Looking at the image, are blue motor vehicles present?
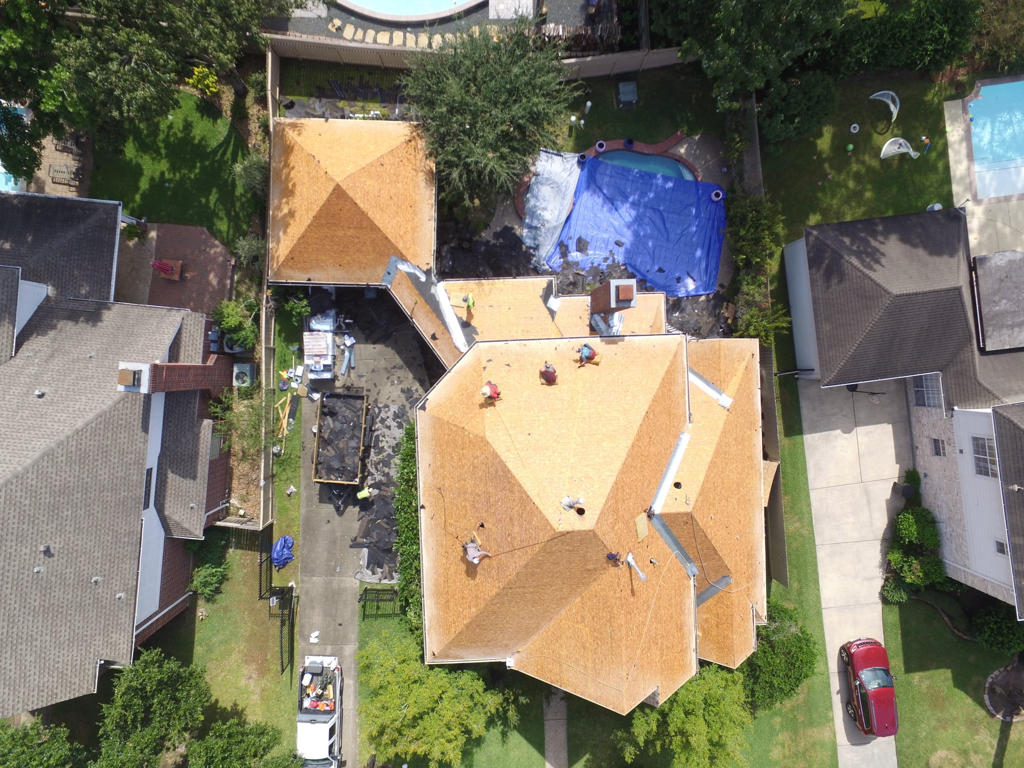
No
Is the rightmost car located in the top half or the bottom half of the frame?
bottom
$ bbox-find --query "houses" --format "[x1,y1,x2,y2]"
[414,275,781,714]
[0,186,236,718]
[784,210,1024,620]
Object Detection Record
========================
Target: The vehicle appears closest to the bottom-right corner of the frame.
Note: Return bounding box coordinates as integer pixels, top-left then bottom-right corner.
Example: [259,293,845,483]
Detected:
[841,632,898,737]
